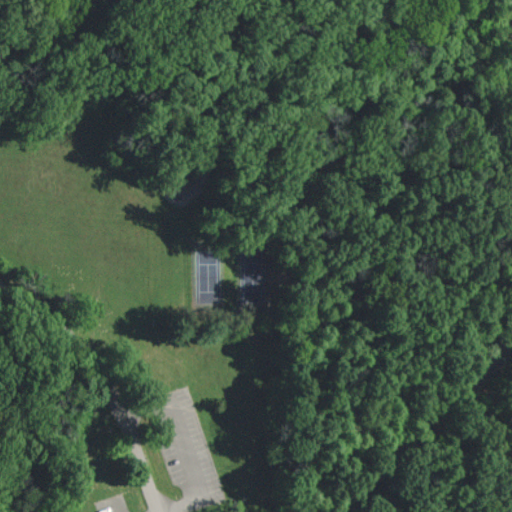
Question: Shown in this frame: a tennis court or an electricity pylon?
tennis court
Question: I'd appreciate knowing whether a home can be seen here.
No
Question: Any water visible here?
No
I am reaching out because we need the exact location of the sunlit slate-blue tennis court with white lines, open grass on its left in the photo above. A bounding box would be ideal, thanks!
[194,250,221,308]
